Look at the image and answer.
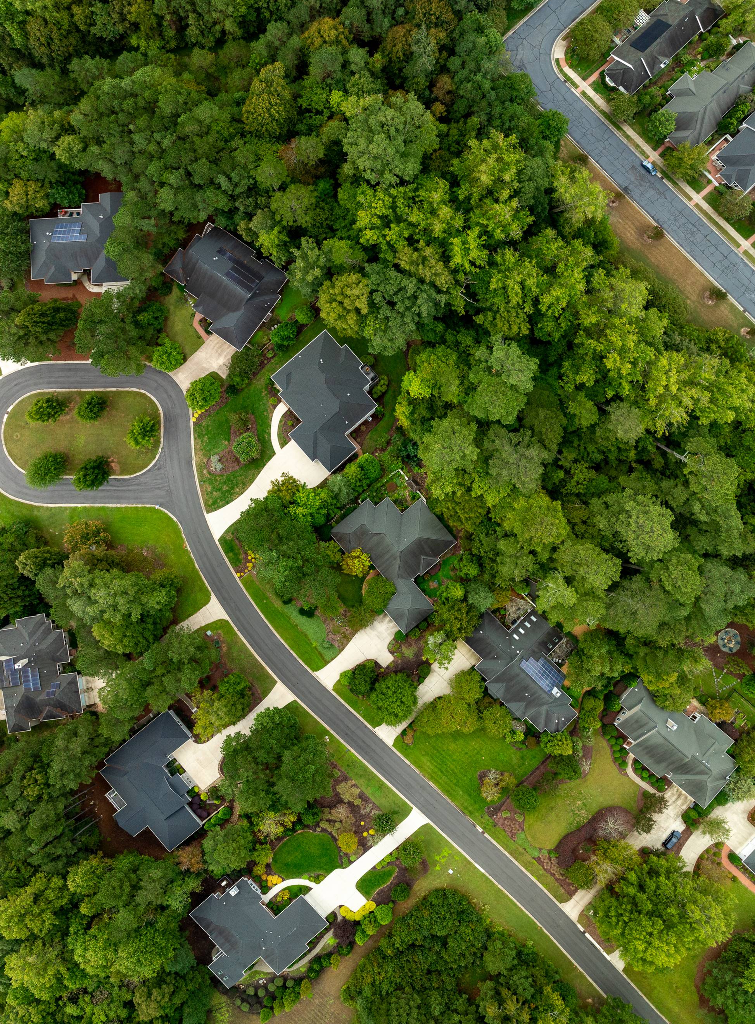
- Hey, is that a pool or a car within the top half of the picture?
car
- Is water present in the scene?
No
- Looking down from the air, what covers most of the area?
trees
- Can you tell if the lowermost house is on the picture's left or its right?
left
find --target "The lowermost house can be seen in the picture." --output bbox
[189,876,329,989]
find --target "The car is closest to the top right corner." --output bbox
[640,158,658,177]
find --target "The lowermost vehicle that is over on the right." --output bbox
[664,829,680,851]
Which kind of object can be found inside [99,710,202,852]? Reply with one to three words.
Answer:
house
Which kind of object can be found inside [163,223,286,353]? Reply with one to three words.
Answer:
house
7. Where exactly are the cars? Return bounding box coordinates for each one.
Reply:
[640,158,658,177]
[664,829,680,851]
